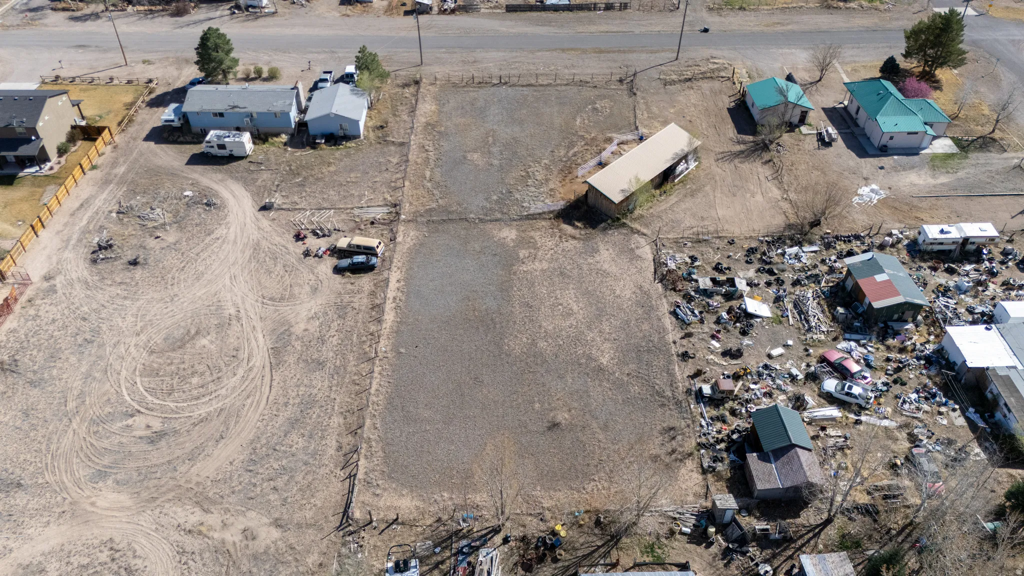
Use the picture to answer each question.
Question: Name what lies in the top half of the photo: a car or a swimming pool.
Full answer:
The feature located in the top half of the photo is a car.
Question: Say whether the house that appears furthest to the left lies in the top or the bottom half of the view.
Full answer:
The house that appears furthest to the left sits in the top half of the picture.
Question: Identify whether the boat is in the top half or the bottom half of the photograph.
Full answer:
You can find the boat in the bottom half.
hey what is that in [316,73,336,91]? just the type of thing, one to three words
vehicle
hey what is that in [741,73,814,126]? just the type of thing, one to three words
shed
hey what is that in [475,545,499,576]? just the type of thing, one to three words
trailer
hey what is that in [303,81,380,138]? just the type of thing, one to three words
building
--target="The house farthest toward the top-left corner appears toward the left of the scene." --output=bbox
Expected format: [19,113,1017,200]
[0,91,94,177]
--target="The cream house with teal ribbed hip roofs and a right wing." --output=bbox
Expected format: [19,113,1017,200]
[844,79,952,149]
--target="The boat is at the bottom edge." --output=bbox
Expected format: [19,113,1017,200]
[384,538,419,576]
